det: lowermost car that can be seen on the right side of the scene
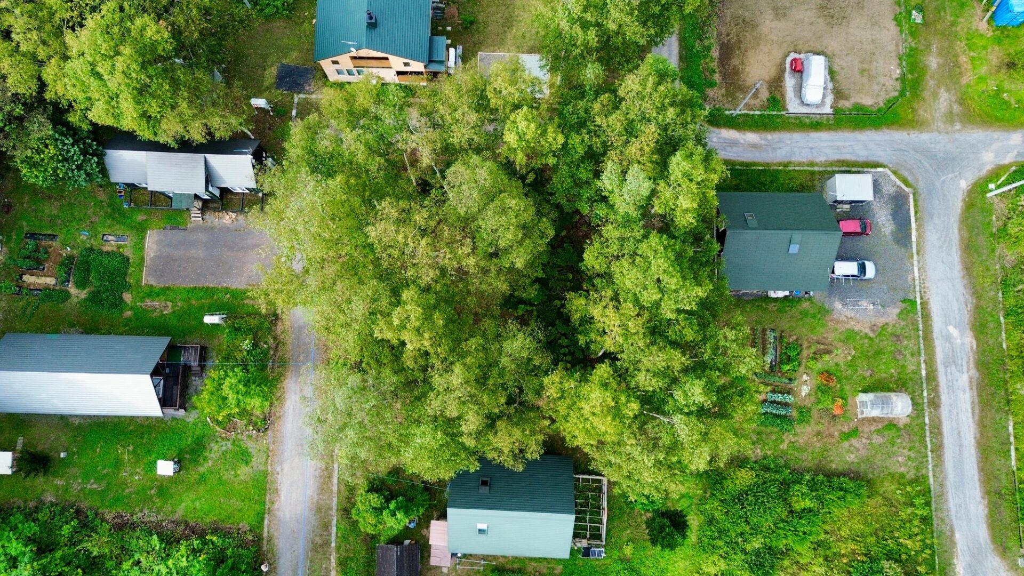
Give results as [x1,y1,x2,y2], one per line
[829,261,874,283]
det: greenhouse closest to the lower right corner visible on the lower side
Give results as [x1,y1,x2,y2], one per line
[856,395,916,420]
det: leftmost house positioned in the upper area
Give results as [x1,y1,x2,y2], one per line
[104,134,267,223]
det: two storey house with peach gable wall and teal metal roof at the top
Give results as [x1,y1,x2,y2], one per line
[315,0,445,94]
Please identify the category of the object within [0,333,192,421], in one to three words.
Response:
house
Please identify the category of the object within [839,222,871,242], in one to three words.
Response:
car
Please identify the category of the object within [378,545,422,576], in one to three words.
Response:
shed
